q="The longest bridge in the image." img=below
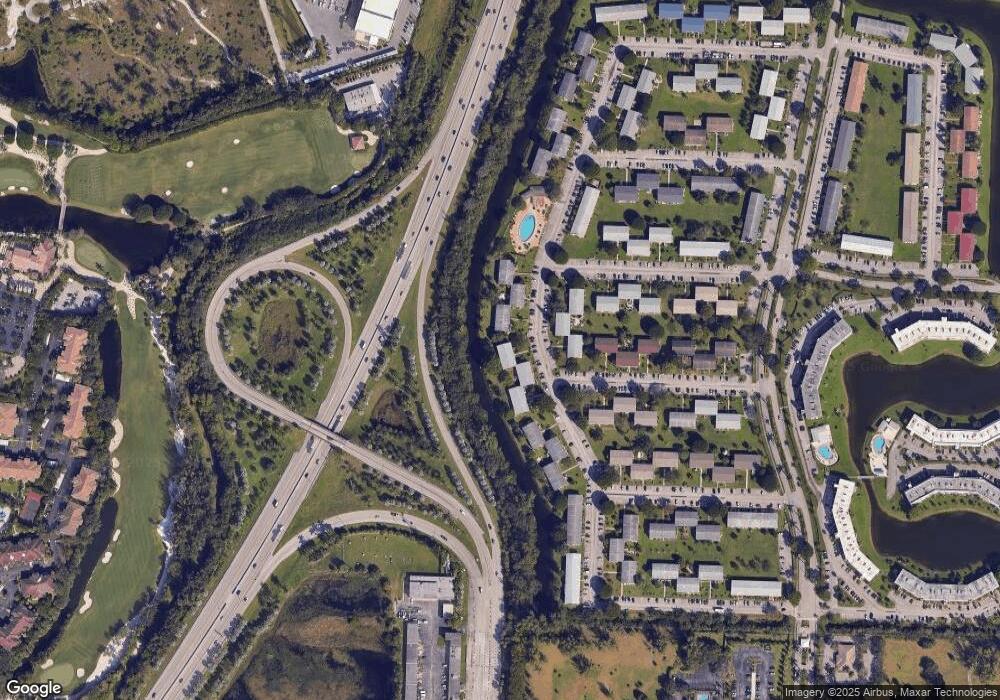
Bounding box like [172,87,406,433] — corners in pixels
[275,404,378,465]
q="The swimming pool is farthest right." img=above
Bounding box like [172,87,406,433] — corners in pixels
[869,429,891,469]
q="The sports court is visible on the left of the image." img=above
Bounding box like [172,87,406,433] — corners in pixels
[20,491,41,522]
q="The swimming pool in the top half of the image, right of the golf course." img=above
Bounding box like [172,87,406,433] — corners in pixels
[510,198,551,252]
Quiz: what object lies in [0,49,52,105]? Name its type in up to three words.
pond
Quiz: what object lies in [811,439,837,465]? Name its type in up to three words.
swimming pool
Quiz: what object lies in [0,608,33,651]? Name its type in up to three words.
house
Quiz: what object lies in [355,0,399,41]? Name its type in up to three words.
building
